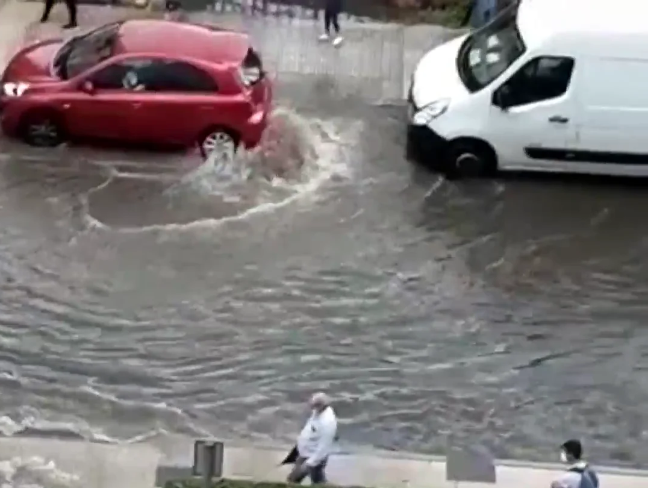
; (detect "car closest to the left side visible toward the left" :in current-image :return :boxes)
[2,25,268,162]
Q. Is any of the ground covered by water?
Yes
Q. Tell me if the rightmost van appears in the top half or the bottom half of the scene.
top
